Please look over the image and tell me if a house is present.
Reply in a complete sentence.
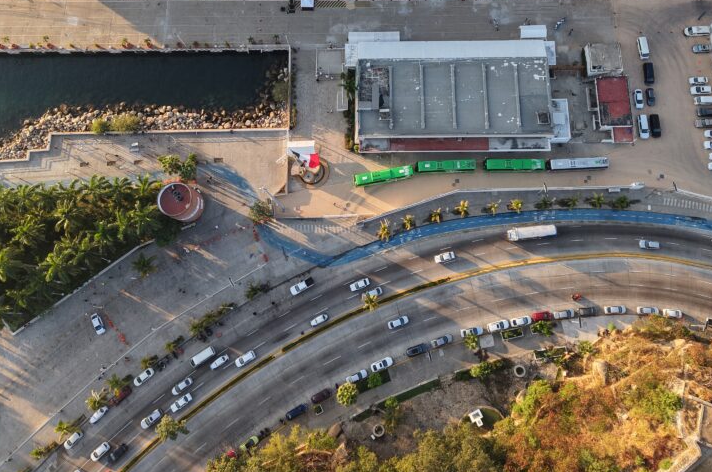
Yes, a house appears in the view.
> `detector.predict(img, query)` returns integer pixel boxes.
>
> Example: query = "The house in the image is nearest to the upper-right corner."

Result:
[582,42,624,80]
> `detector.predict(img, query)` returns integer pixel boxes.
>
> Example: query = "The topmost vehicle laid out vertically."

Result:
[638,34,650,60]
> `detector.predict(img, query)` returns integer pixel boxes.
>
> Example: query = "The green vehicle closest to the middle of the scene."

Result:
[352,162,415,188]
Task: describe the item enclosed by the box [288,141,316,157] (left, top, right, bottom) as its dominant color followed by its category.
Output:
white tent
